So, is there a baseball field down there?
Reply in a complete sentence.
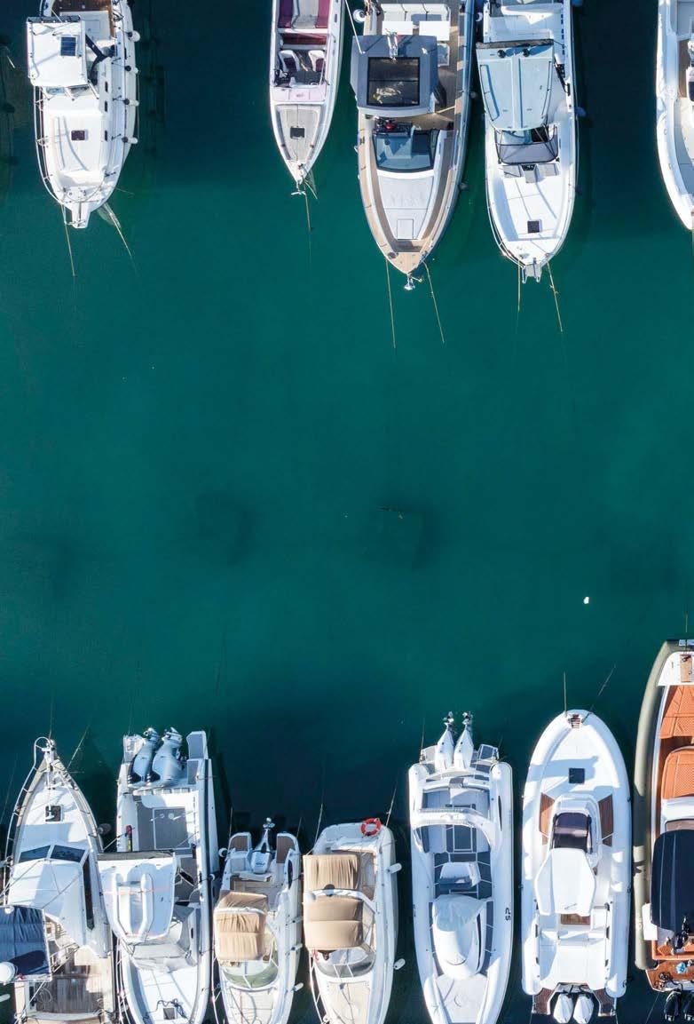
No, there is no baseball field in the image.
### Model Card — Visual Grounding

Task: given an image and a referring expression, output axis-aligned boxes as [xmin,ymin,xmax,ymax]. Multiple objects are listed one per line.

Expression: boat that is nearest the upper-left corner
[28,0,138,233]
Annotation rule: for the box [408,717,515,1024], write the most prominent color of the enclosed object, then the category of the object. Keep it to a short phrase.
white boat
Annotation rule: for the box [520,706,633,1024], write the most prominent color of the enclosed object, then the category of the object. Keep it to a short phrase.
white boat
